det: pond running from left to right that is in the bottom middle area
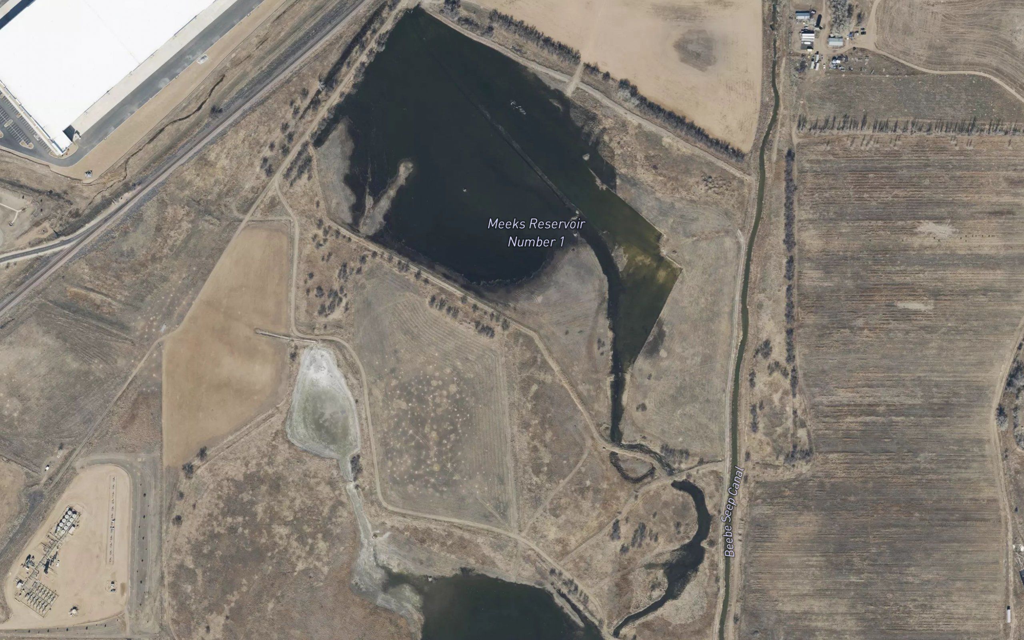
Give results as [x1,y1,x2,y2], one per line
[379,565,604,640]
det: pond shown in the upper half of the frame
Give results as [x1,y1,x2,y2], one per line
[314,6,682,444]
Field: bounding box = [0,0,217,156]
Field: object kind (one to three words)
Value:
warehouse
